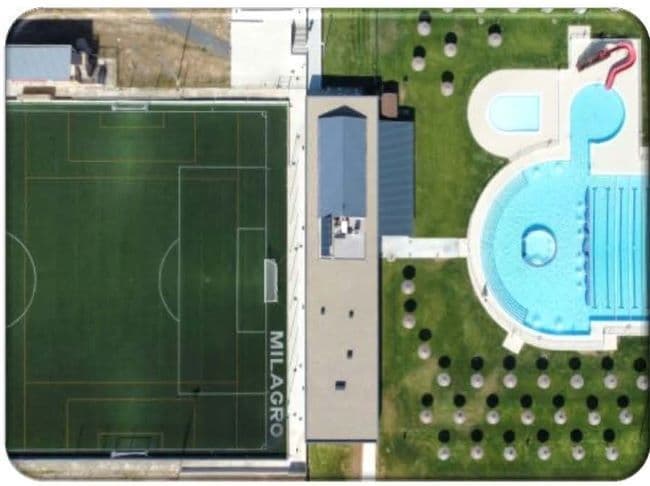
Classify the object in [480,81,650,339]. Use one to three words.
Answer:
swimming pool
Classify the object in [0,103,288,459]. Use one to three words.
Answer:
soccer field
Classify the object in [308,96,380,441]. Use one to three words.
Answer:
building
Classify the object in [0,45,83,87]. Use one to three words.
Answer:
building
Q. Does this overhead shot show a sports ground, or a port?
sports ground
